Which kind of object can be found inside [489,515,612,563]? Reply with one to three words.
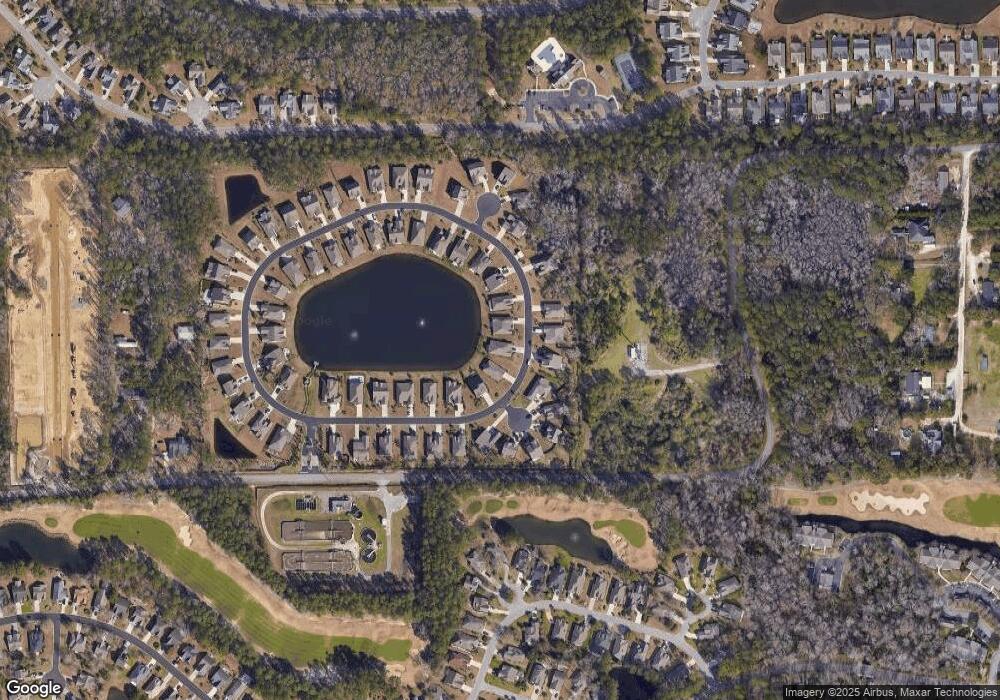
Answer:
pond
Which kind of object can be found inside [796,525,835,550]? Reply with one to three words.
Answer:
building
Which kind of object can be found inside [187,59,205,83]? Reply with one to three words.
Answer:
house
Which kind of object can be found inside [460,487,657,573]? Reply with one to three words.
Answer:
golf course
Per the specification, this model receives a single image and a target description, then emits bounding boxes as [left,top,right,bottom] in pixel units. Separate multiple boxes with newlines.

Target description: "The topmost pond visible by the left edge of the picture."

[0,519,91,577]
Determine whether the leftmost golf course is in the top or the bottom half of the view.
bottom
